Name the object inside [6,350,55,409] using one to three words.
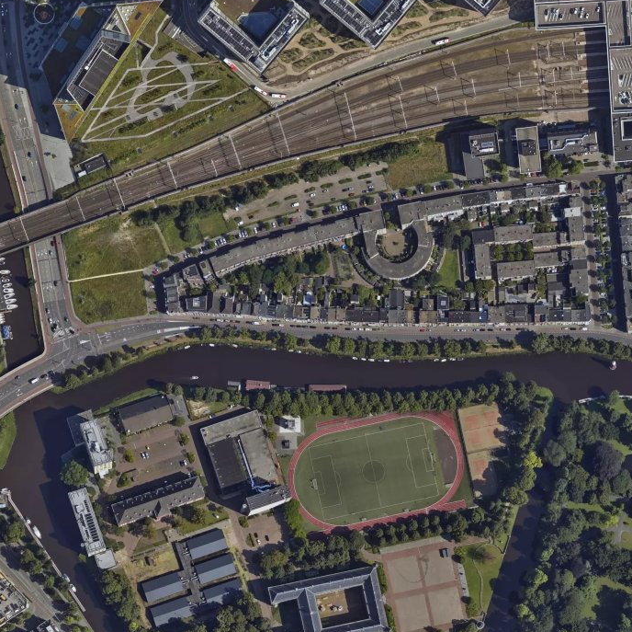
bridge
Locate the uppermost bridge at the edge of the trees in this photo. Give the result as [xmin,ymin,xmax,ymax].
[0,23,610,257]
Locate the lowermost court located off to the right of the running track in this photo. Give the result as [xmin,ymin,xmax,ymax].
[468,447,501,481]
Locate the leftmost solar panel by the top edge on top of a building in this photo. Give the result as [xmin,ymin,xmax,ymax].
[205,11,255,59]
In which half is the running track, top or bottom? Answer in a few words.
bottom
